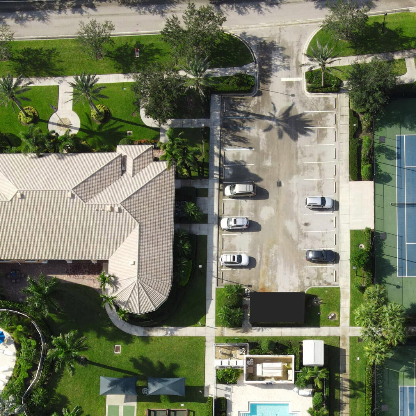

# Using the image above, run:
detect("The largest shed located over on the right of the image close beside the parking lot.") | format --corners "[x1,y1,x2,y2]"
[249,293,304,323]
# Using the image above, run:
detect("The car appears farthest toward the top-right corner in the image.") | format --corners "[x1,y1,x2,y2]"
[305,197,334,210]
